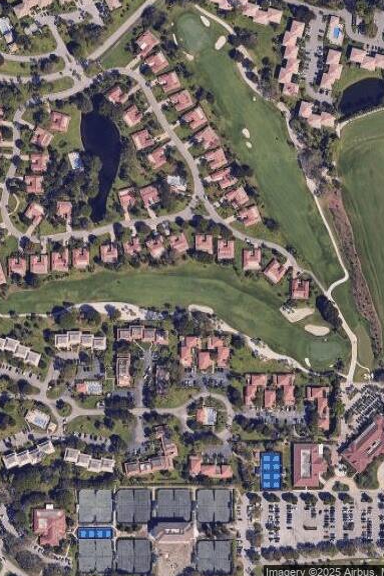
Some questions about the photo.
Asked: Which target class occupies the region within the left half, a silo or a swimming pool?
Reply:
swimming pool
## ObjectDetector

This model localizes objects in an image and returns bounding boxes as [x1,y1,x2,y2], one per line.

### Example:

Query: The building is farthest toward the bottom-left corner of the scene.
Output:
[33,505,66,547]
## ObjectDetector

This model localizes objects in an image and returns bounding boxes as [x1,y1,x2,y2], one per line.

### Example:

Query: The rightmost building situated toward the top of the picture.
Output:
[350,47,384,70]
